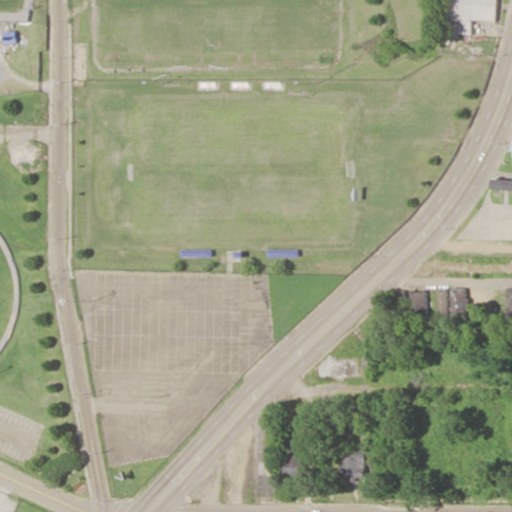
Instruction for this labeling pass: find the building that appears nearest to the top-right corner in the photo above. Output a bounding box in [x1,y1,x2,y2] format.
[454,0,497,37]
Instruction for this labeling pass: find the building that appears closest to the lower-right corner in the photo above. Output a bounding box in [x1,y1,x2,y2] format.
[344,454,366,482]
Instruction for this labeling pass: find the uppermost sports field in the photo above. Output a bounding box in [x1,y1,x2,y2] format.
[99,0,337,63]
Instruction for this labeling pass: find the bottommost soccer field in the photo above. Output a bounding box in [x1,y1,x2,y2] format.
[131,95,348,249]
